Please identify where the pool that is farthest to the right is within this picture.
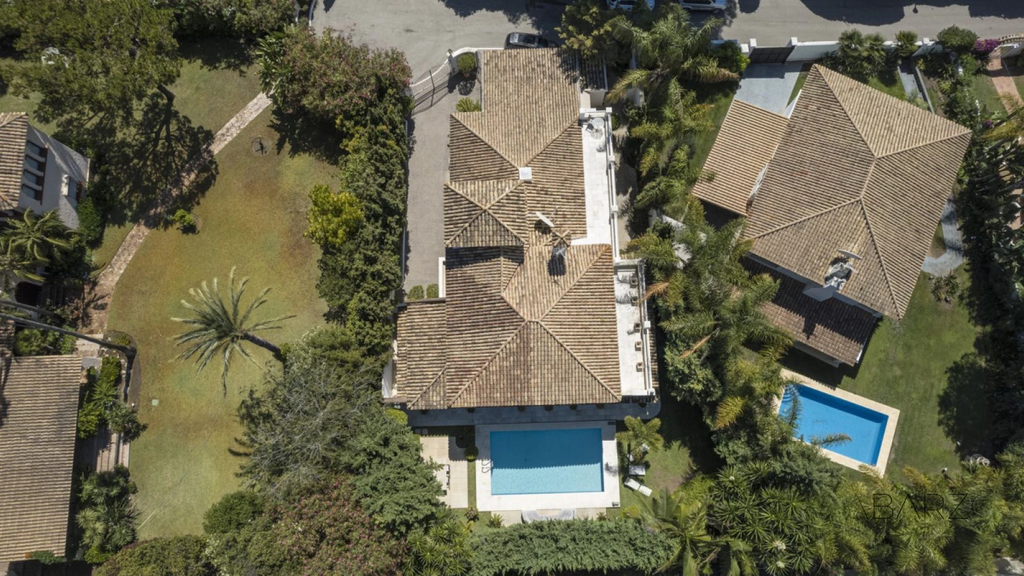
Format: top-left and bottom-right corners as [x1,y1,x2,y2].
[765,369,899,476]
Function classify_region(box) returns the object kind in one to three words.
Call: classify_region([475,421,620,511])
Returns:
swimming pool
